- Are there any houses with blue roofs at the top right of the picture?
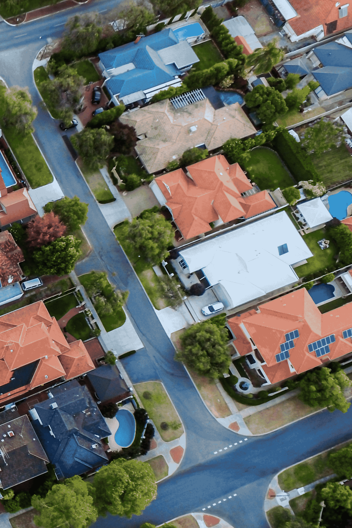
Yes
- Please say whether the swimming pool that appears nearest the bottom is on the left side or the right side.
left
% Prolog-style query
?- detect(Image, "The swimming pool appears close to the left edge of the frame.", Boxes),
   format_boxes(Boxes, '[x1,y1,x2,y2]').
[0,146,18,187]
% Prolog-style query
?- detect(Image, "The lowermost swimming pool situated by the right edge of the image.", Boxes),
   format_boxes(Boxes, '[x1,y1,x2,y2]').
[306,282,338,306]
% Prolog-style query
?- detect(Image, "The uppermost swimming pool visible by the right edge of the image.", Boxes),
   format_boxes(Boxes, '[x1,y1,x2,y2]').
[327,188,352,219]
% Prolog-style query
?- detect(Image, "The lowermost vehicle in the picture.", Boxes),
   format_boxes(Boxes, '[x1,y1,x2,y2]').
[201,302,224,317]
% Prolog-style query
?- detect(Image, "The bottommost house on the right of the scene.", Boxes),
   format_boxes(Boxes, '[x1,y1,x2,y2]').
[225,285,352,386]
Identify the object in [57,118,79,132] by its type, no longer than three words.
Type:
car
